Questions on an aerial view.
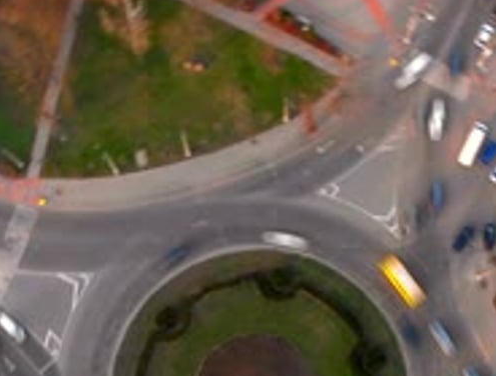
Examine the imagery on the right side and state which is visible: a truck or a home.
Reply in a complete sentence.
The feature located on the right side is a truck.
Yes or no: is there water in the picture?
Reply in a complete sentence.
No, the scene doesn't show any water.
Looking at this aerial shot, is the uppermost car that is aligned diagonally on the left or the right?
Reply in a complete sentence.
You can find the uppermost car that is aligned diagonally on the right side of the picture.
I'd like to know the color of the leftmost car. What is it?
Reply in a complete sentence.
From above, the leftmost car appears white.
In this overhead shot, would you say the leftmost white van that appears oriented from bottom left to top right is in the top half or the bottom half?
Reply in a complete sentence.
You can find the leftmost white van that appears oriented from bottom left to top right in the top half.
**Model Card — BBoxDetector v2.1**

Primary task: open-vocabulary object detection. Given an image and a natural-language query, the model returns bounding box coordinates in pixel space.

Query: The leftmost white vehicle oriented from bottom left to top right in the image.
[396,46,433,87]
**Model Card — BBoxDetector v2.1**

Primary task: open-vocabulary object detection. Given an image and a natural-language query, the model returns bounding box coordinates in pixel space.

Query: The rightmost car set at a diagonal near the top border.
[474,17,496,50]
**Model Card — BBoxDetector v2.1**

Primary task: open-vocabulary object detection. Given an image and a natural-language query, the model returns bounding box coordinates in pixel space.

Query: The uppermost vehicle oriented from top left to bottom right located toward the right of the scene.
[377,251,430,306]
